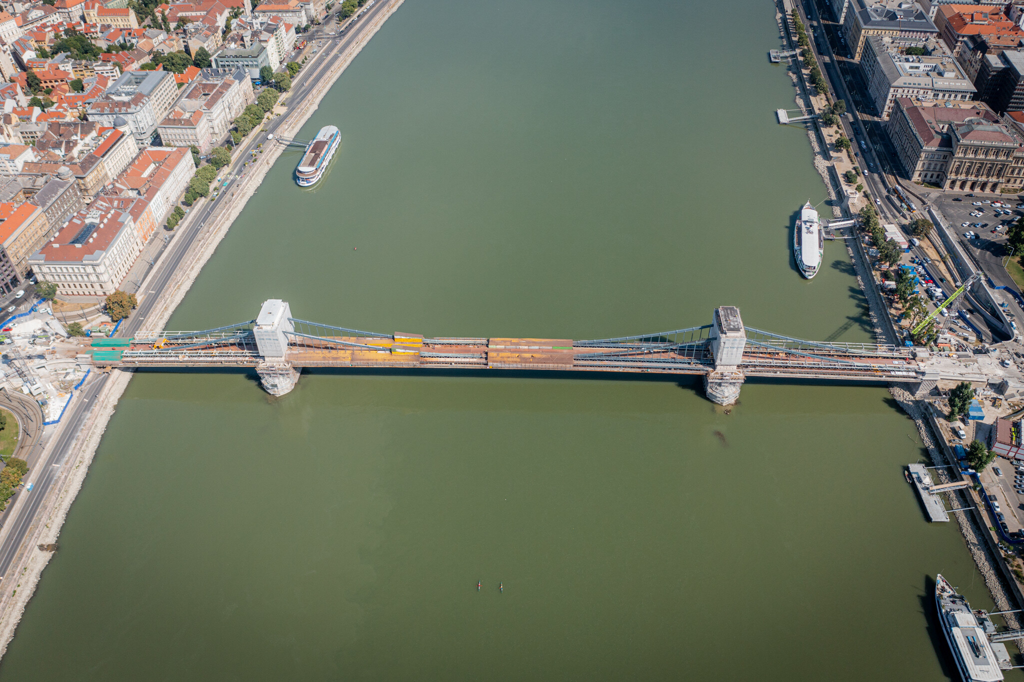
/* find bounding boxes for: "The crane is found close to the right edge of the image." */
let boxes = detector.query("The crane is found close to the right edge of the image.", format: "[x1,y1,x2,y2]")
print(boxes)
[912,272,985,345]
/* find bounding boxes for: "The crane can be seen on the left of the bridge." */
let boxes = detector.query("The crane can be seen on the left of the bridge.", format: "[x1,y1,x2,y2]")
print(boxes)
[0,329,52,395]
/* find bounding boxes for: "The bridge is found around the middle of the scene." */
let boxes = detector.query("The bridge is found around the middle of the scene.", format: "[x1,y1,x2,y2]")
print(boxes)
[90,298,928,410]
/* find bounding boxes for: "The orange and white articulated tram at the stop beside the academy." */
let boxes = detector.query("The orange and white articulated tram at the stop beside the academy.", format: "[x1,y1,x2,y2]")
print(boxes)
[893,185,919,212]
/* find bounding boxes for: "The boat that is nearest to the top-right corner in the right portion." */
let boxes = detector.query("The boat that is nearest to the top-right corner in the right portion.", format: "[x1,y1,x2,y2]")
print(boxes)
[794,200,824,282]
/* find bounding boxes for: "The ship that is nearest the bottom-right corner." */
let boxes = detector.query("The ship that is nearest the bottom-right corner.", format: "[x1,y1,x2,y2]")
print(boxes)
[933,569,1005,682]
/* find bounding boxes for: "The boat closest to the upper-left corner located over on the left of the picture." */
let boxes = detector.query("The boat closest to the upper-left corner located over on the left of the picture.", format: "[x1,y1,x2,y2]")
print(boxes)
[297,124,342,188]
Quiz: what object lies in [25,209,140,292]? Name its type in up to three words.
building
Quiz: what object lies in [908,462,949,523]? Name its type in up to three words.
pier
